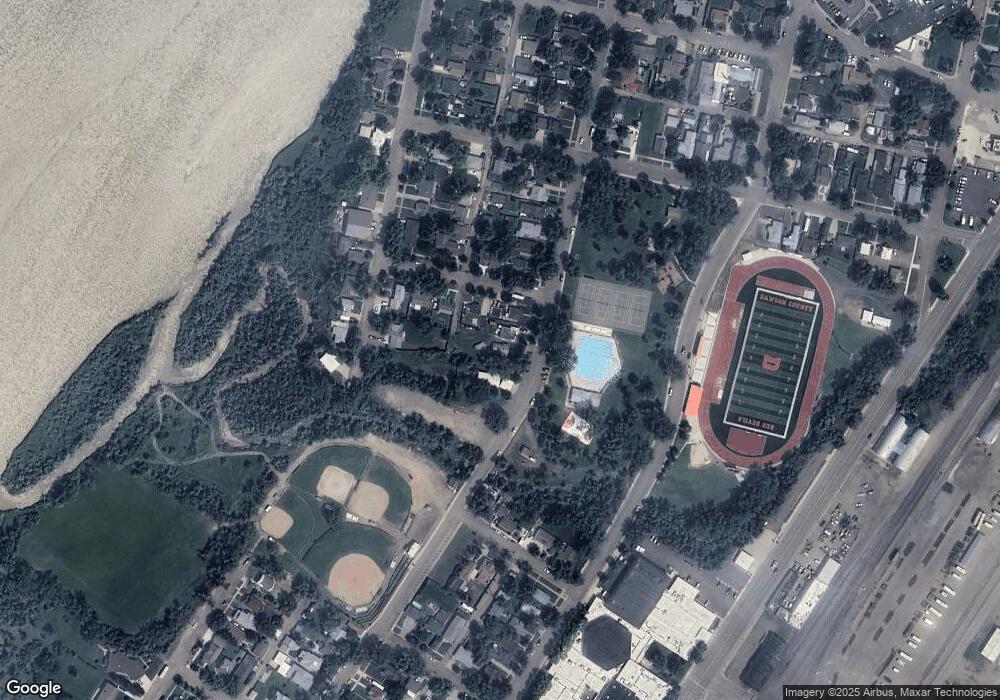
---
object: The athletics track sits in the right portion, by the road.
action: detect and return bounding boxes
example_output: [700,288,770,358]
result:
[699,256,836,468]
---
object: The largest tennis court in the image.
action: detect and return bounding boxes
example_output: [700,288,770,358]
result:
[571,276,652,334]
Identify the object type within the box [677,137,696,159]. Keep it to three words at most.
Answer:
house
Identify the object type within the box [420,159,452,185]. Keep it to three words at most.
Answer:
house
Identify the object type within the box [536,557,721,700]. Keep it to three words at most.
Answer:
building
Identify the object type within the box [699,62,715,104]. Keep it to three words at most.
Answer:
building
